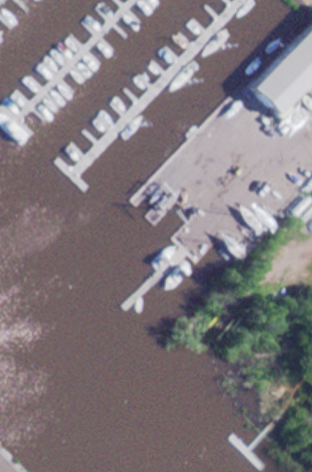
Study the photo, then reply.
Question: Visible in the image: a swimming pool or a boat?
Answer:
boat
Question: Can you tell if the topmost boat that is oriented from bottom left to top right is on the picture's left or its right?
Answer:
right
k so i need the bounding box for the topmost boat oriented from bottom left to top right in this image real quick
[234,0,256,20]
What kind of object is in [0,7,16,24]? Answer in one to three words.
boat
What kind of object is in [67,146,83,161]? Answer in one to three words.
boat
